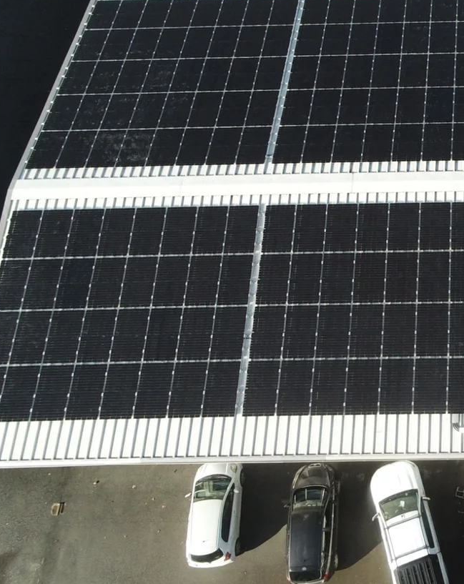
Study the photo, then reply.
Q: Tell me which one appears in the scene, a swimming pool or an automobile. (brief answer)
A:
automobile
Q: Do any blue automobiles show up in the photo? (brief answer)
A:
No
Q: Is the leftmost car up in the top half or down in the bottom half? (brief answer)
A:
bottom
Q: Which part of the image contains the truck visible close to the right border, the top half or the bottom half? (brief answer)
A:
bottom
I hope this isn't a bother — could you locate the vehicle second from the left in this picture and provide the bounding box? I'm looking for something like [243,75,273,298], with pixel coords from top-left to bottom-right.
[284,461,342,584]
